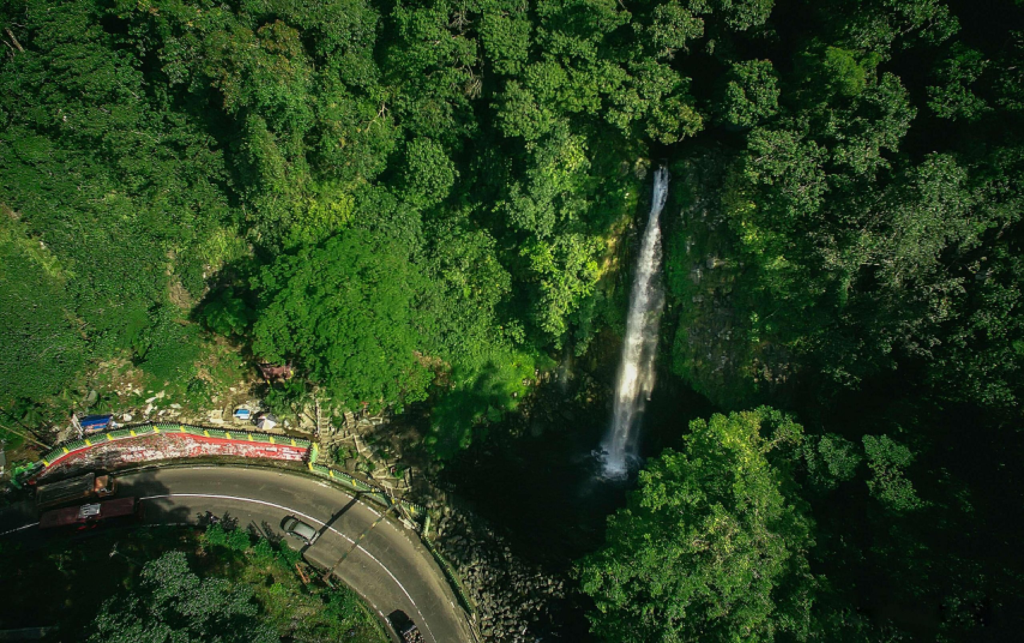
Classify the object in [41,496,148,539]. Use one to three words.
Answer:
bus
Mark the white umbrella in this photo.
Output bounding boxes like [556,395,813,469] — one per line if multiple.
[255,411,277,430]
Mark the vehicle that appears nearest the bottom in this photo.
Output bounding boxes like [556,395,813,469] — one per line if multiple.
[391,606,427,643]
